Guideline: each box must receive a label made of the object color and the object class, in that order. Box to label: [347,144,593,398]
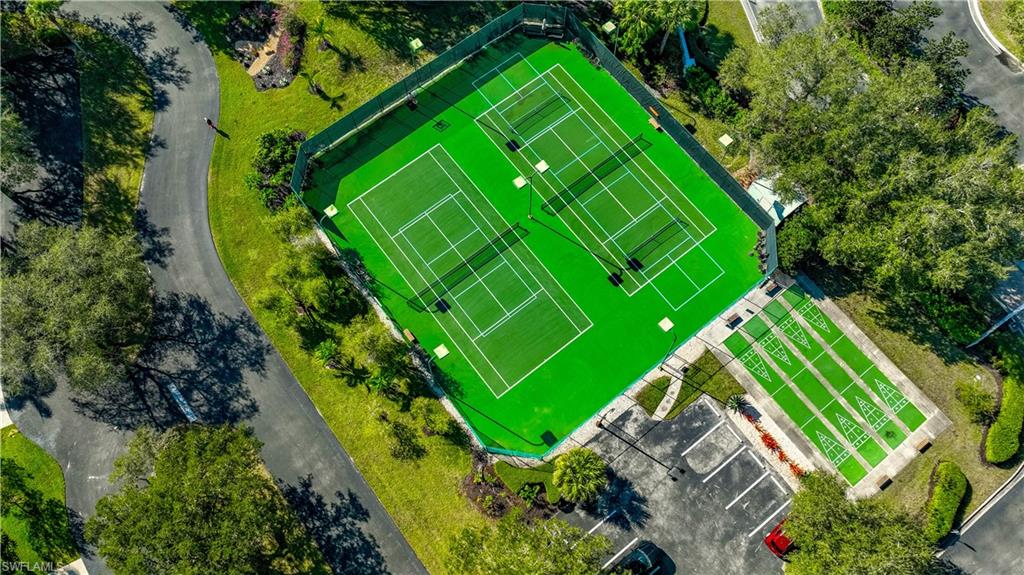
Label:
green tennis court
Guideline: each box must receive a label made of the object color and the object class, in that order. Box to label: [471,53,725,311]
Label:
green tennis court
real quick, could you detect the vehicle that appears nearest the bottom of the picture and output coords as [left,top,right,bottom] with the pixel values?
[619,549,666,575]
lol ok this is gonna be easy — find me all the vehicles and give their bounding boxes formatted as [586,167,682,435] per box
[767,507,810,556]
[619,549,666,575]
